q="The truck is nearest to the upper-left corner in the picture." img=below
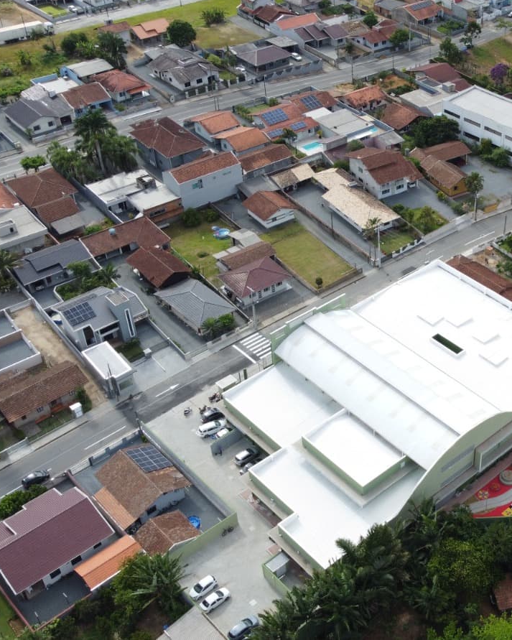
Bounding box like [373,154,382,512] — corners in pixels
[0,19,52,42]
